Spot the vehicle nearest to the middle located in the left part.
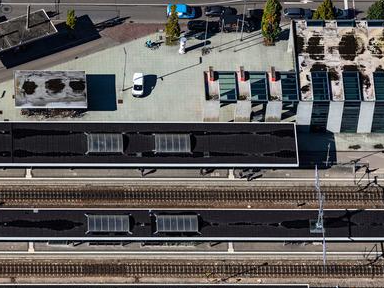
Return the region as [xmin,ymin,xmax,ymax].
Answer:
[132,72,145,97]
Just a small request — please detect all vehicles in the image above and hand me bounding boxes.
[132,72,145,97]
[168,4,195,19]
[187,20,216,34]
[285,7,313,20]
[203,6,231,18]
[221,15,254,34]
[246,7,268,20]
